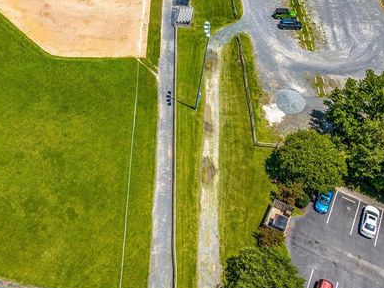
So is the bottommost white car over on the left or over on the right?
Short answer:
right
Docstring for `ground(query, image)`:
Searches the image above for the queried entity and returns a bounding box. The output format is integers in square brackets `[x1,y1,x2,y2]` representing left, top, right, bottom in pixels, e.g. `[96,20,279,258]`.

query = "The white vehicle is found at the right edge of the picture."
[358,204,381,240]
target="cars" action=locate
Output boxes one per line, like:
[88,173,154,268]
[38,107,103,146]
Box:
[272,7,296,20]
[316,272,336,288]
[276,18,304,32]
[313,187,335,217]
[358,204,381,240]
